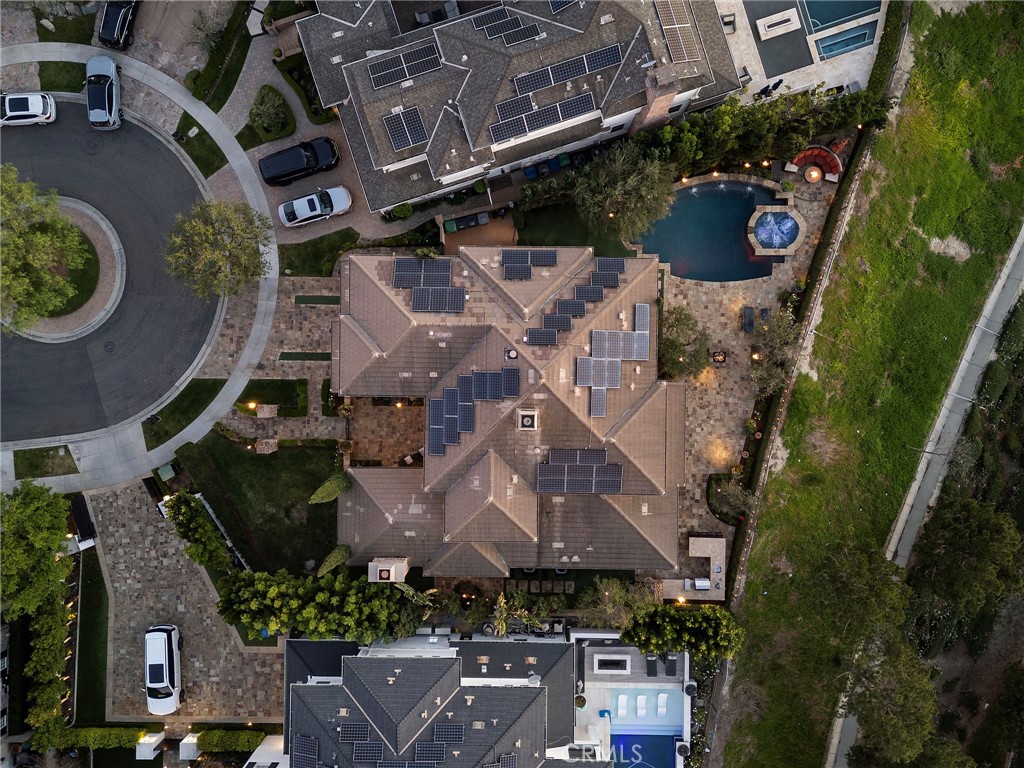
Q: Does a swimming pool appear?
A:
Yes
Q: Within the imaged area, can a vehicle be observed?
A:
Yes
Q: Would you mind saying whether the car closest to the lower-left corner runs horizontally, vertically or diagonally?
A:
vertically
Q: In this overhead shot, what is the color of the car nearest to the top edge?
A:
black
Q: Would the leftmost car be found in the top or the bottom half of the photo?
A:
top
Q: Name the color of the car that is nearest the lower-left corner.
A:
white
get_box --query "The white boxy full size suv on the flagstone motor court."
[138,629,182,717]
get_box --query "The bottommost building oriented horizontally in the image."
[284,626,610,768]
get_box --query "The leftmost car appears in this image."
[0,90,53,124]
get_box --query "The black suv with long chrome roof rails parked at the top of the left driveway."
[92,0,136,45]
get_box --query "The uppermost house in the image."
[296,0,742,214]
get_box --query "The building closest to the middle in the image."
[330,246,687,582]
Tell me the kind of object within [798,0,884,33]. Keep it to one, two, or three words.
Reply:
swimming pool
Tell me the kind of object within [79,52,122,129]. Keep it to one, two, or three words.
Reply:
car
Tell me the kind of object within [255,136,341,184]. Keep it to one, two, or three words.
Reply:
car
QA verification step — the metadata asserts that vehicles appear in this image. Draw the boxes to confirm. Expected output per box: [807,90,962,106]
[275,183,354,227]
[0,90,53,124]
[79,52,122,129]
[255,136,341,184]
[92,0,136,45]
[138,629,182,717]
